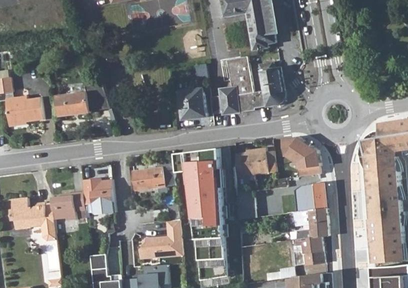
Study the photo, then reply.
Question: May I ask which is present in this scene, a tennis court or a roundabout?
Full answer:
Looking from above, you can make out a roundabout.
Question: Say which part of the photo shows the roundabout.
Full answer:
The roundabout is in the right part of the image.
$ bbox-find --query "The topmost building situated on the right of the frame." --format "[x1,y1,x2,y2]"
[220,0,282,49]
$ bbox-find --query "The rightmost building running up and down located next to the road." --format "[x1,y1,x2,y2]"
[360,133,408,264]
